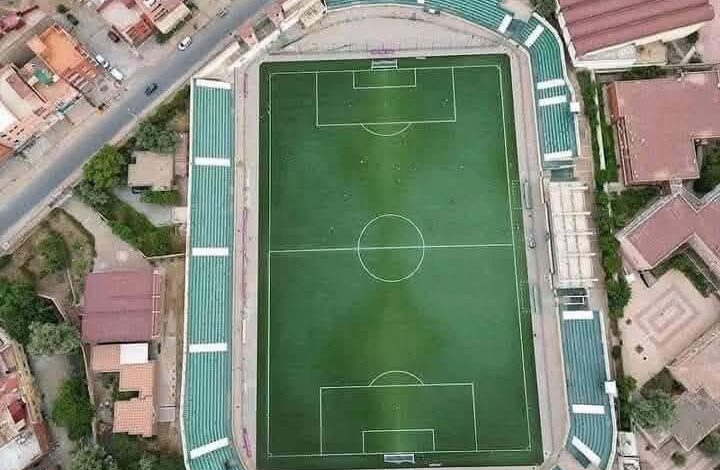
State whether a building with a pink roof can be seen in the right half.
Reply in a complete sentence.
Yes, the scene does show a building with a pink roof in the right half.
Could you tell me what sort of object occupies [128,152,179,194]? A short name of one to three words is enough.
house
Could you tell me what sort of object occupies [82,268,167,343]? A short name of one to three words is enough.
shed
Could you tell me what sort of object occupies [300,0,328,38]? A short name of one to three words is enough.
building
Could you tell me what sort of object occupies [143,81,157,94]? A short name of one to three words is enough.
vehicle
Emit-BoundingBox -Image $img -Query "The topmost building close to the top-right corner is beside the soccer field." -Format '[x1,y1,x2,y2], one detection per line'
[551,0,716,70]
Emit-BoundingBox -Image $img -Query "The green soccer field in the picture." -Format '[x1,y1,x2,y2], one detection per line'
[256,54,544,470]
